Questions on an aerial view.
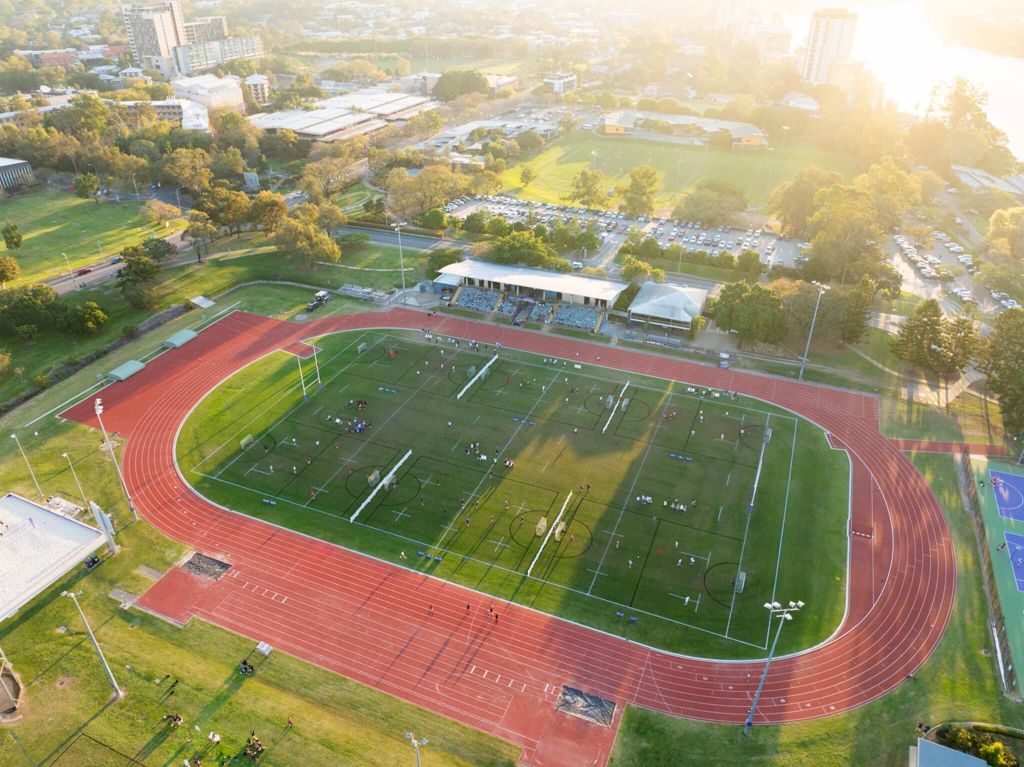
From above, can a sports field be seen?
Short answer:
Yes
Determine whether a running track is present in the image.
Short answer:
Yes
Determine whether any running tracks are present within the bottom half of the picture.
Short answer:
Yes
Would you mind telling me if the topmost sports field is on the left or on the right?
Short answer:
right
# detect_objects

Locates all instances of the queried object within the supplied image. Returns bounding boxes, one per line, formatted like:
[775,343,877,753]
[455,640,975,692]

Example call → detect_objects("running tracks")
[122,312,958,724]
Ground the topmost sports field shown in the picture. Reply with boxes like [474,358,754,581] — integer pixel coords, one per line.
[500,131,850,215]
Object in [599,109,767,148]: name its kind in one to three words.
building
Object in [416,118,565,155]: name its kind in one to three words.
building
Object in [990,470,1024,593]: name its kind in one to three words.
sports court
